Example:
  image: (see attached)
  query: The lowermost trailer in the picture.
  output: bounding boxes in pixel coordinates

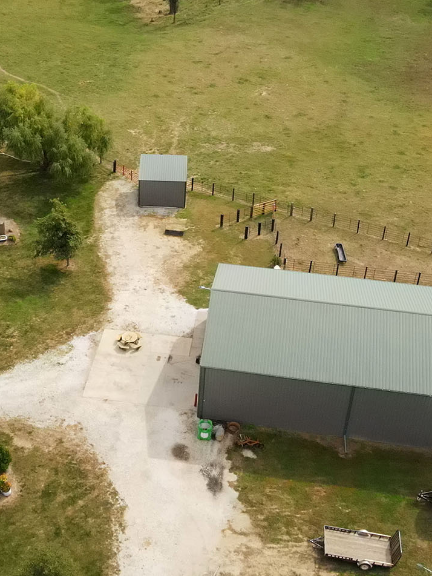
[307,526,402,570]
